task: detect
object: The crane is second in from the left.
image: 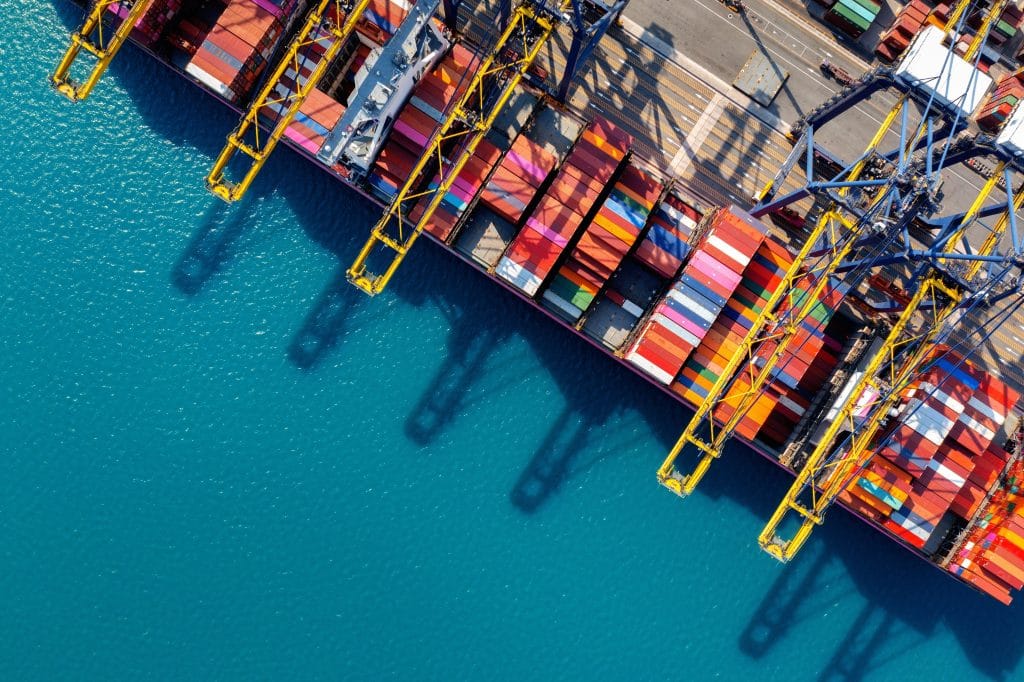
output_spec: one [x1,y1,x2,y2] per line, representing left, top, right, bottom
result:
[204,0,368,198]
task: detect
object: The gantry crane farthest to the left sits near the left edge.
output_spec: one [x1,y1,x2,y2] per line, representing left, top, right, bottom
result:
[49,0,148,98]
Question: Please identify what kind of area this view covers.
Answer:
port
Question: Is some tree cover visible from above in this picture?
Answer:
No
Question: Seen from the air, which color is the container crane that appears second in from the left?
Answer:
yellow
